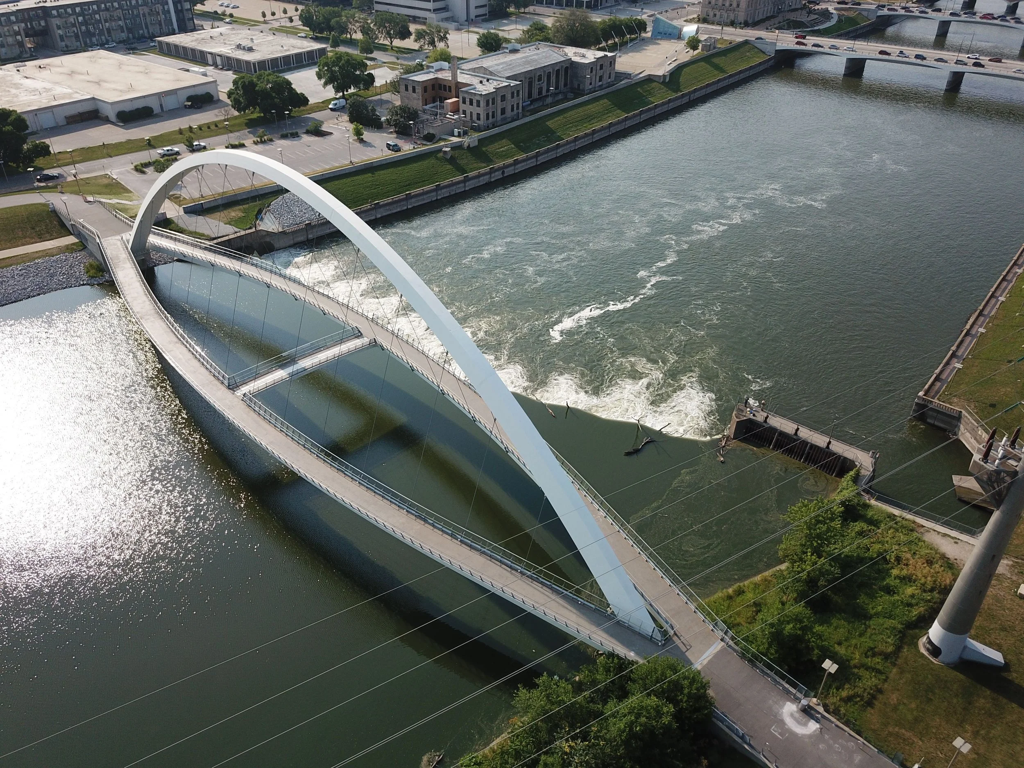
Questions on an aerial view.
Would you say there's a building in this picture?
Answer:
Yes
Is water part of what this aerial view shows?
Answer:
Yes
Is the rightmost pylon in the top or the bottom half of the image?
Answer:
bottom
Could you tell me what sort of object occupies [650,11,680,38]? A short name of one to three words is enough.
building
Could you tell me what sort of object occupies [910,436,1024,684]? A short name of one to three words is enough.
pylon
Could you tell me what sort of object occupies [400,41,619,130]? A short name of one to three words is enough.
building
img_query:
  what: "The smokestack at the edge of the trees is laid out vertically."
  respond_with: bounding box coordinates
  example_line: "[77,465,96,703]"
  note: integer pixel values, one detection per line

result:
[445,57,458,97]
